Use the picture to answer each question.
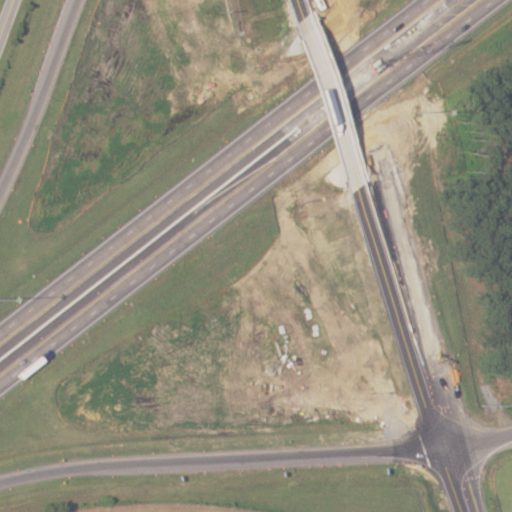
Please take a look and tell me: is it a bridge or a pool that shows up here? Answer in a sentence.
Visible in the photo is a bridge.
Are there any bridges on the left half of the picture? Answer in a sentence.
No, there's no bridge to be seen on the left half of the picture.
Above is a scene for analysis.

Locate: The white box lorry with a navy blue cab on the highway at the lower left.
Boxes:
[19,352,56,380]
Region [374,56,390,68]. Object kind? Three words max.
vehicle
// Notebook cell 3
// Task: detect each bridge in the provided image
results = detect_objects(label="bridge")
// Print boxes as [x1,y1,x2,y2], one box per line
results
[296,10,372,192]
